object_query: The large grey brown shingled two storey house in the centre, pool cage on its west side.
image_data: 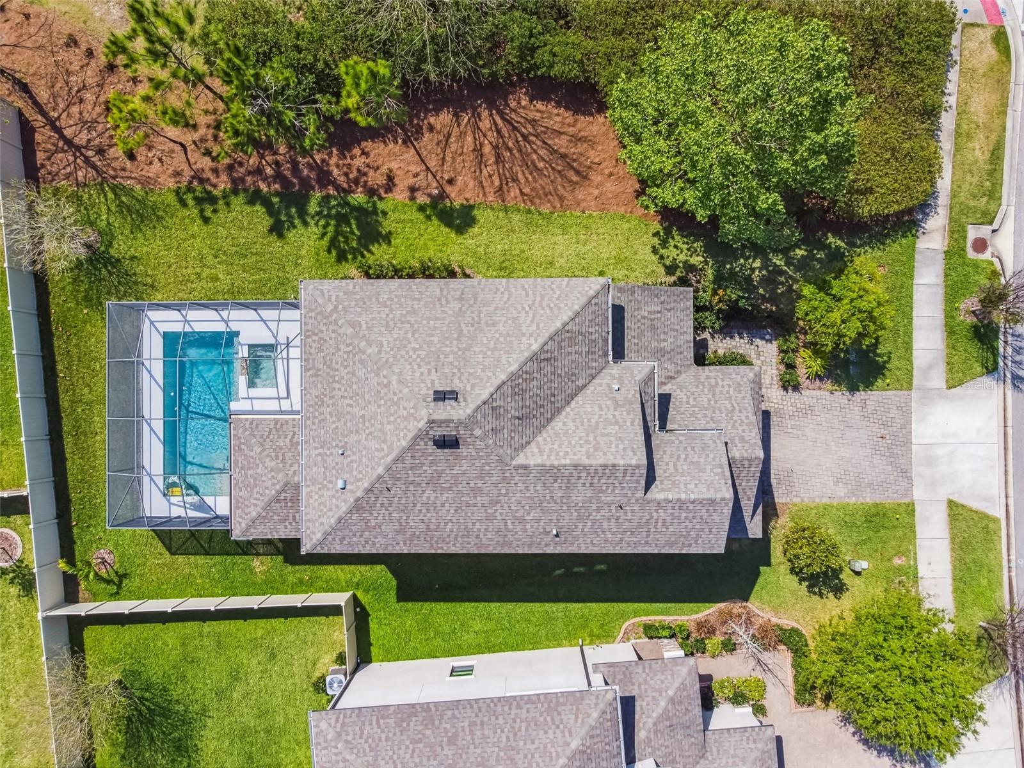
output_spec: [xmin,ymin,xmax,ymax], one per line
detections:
[227,277,763,553]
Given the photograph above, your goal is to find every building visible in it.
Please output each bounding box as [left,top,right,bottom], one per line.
[227,277,763,553]
[307,641,778,768]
